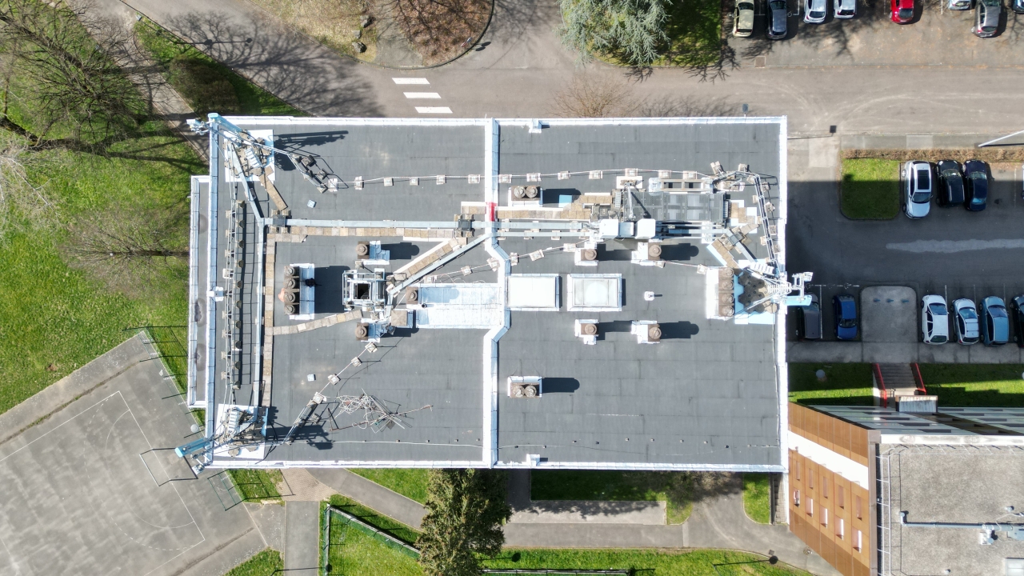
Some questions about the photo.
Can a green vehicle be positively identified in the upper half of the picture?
No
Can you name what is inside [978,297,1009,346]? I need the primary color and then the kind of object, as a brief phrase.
blue car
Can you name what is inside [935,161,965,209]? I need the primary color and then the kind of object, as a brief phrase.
black car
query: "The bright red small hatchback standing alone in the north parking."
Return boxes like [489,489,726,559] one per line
[887,0,912,25]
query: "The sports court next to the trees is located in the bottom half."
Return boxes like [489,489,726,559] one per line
[0,333,276,576]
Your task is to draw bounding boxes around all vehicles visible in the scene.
[935,161,965,209]
[1010,297,1024,347]
[971,0,1003,39]
[732,0,756,39]
[795,294,822,343]
[978,297,1009,346]
[831,296,858,340]
[919,296,949,345]
[948,299,978,344]
[961,161,990,214]
[887,0,912,25]
[763,0,790,42]
[800,0,824,26]
[828,0,853,21]
[902,163,934,219]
